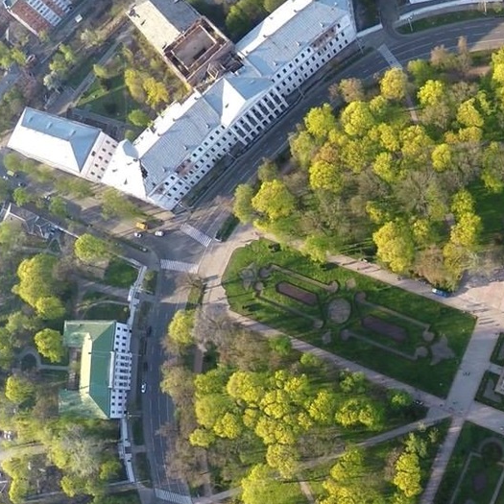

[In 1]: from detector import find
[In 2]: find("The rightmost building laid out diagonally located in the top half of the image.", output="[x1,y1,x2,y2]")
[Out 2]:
[94,0,354,212]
